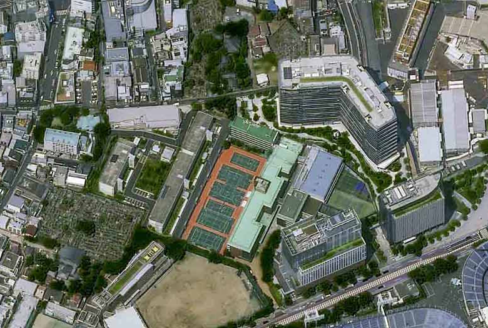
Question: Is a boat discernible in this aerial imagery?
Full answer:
No, no boat is visible in the scene.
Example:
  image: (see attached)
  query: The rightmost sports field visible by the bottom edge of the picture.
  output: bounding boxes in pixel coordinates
[138,253,265,328]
